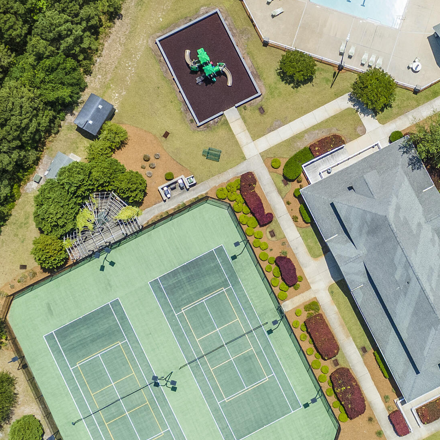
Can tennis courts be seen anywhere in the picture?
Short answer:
Yes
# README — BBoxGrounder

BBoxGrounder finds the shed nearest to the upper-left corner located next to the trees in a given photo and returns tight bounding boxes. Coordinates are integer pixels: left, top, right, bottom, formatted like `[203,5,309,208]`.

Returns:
[74,93,114,134]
